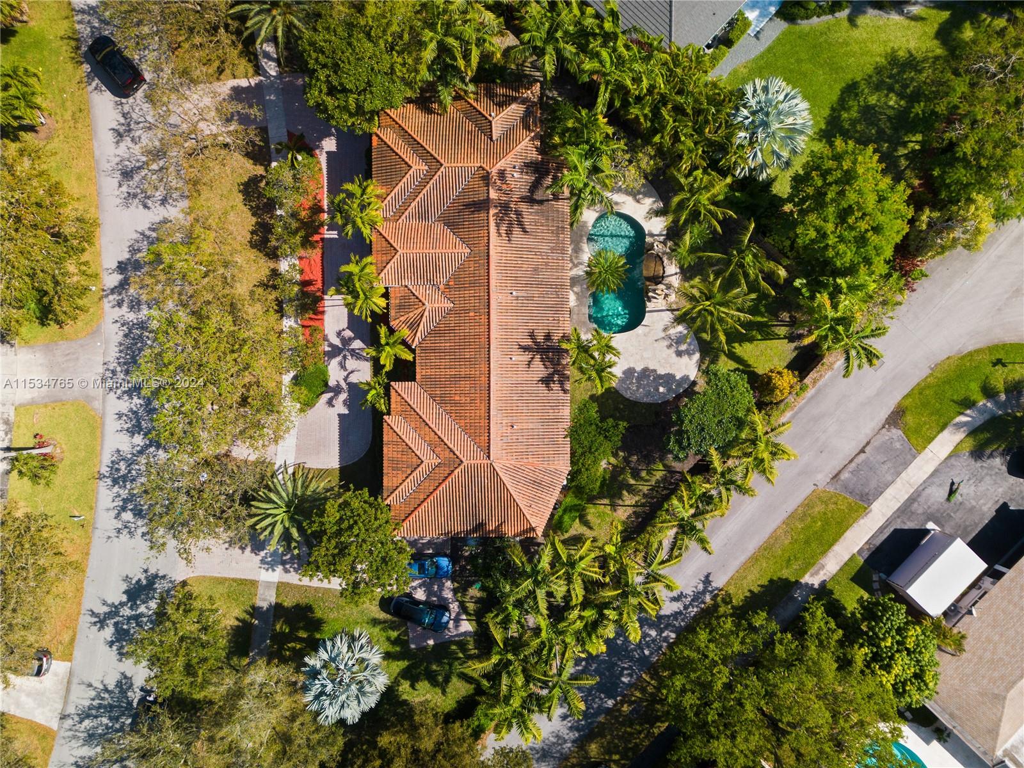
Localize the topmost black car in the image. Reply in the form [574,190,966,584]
[90,35,146,102]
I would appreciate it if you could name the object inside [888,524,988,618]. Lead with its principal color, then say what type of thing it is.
white trailer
